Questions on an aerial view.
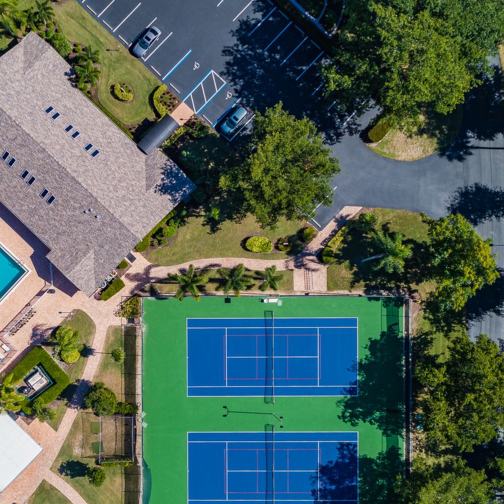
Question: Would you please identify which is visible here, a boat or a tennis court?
tennis court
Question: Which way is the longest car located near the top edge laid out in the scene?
on a diagonal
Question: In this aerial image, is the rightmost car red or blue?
blue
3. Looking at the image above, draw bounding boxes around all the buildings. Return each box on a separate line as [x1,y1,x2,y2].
[0,31,195,296]
[0,412,43,493]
